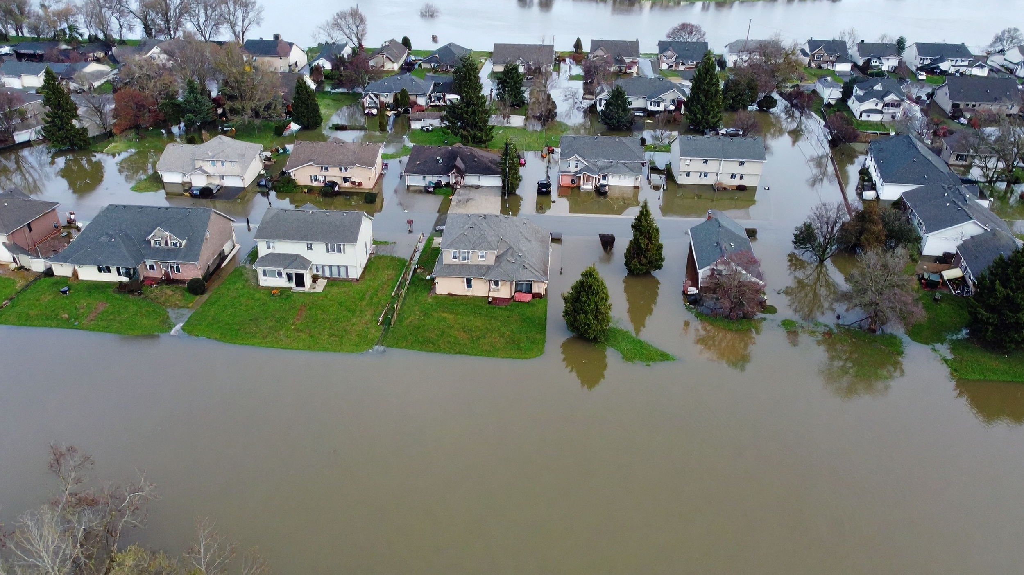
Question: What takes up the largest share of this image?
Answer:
water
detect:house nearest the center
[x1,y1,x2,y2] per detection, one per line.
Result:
[429,217,552,308]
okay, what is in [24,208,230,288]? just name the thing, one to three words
house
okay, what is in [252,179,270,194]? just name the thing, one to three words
car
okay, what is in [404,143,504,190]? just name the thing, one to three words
house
